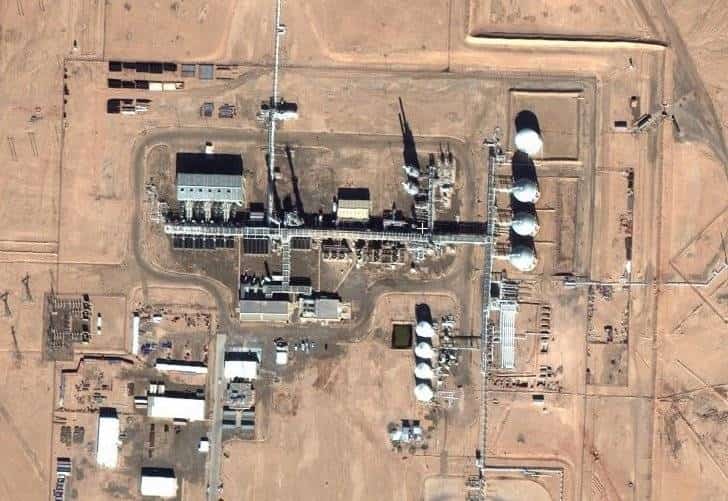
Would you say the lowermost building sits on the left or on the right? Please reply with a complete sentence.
The lowermost building appears in the left half of the scene.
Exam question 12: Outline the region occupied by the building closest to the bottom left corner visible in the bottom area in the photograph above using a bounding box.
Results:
[97,418,119,469]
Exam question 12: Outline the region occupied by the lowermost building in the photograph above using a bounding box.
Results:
[141,476,178,497]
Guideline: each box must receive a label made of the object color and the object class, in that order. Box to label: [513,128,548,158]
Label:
white storage tank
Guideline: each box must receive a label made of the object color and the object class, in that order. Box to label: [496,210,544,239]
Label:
white storage tank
